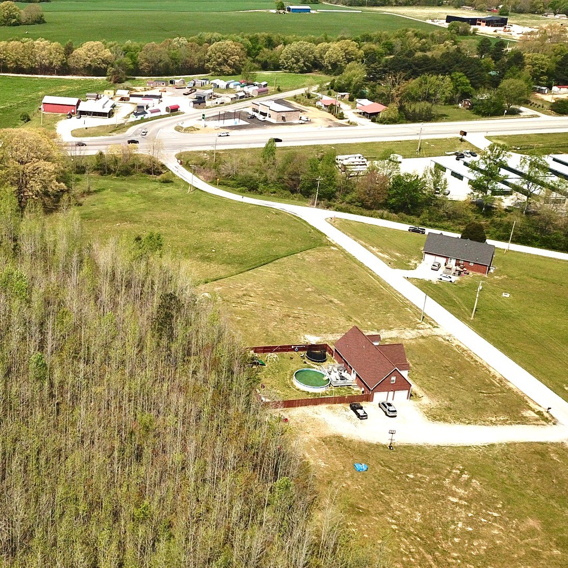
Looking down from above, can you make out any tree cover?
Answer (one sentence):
Yes, there's tree cover in this view.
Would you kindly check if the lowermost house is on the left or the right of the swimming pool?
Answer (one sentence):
Relative to the swimming pool, the lowermost house lies to the right.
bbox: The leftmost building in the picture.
[42,96,79,114]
